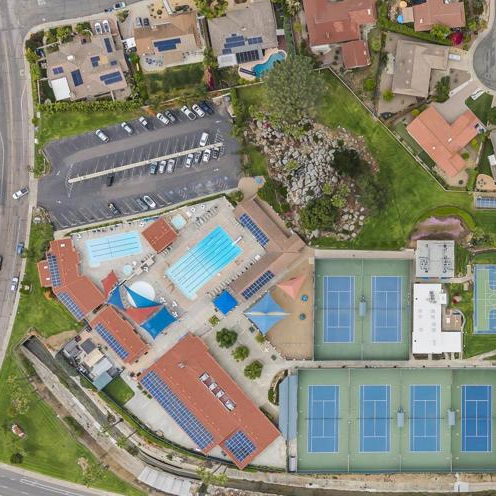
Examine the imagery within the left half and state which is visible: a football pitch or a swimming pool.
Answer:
swimming pool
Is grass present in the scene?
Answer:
Yes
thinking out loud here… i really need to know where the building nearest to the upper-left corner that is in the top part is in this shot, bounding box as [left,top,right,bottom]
[46,31,132,98]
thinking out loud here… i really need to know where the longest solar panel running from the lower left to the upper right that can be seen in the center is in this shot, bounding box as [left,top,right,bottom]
[242,271,273,299]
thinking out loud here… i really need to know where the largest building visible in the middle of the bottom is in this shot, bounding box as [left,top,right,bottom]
[137,333,281,471]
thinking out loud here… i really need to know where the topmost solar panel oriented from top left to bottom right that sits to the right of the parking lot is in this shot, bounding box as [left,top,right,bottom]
[240,214,268,245]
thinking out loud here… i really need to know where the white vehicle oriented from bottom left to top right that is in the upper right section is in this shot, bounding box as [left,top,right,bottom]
[470,88,485,100]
